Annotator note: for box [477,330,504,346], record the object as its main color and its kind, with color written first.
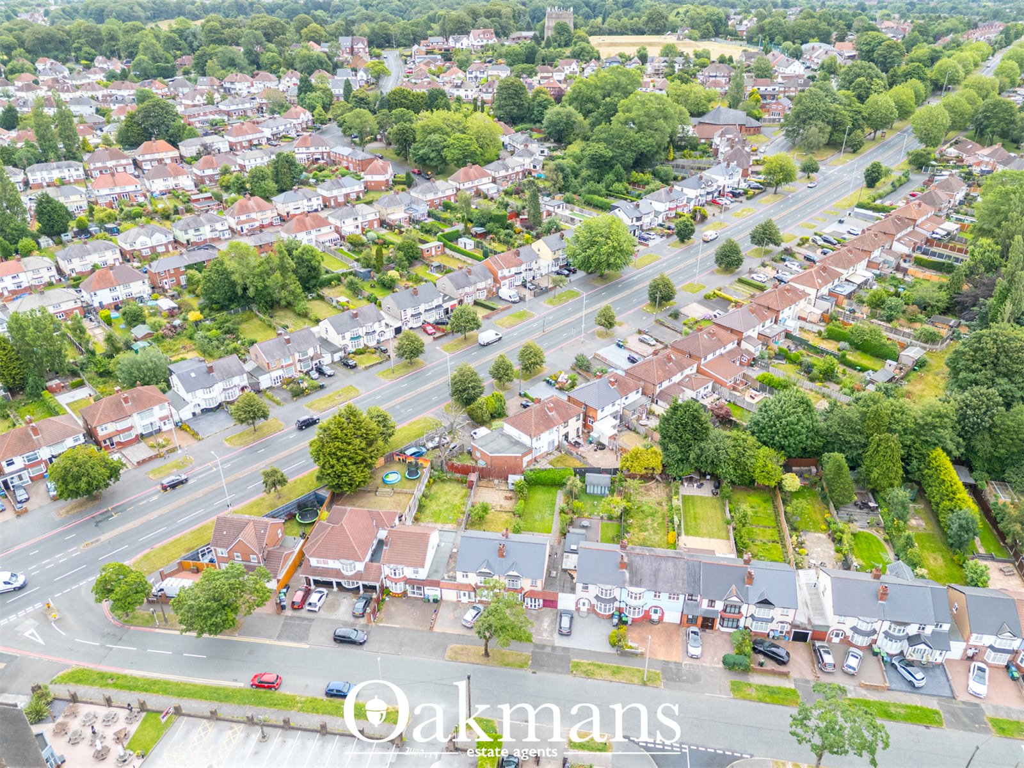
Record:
white vehicle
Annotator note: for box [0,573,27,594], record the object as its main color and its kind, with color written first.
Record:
white vehicle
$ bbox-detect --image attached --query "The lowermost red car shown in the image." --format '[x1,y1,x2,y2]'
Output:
[246,673,283,694]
